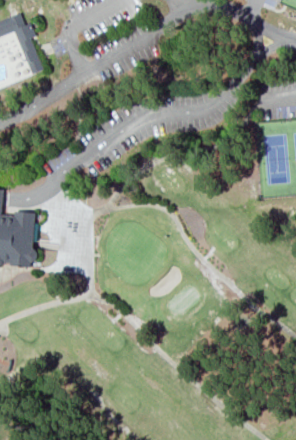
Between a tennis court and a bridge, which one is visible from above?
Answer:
tennis court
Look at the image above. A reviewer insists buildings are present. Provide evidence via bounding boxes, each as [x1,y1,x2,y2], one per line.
[0,12,43,73]
[0,190,42,270]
